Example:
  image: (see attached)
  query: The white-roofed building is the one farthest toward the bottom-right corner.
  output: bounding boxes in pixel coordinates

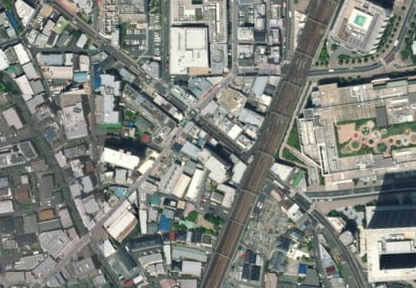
[362,226,416,286]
